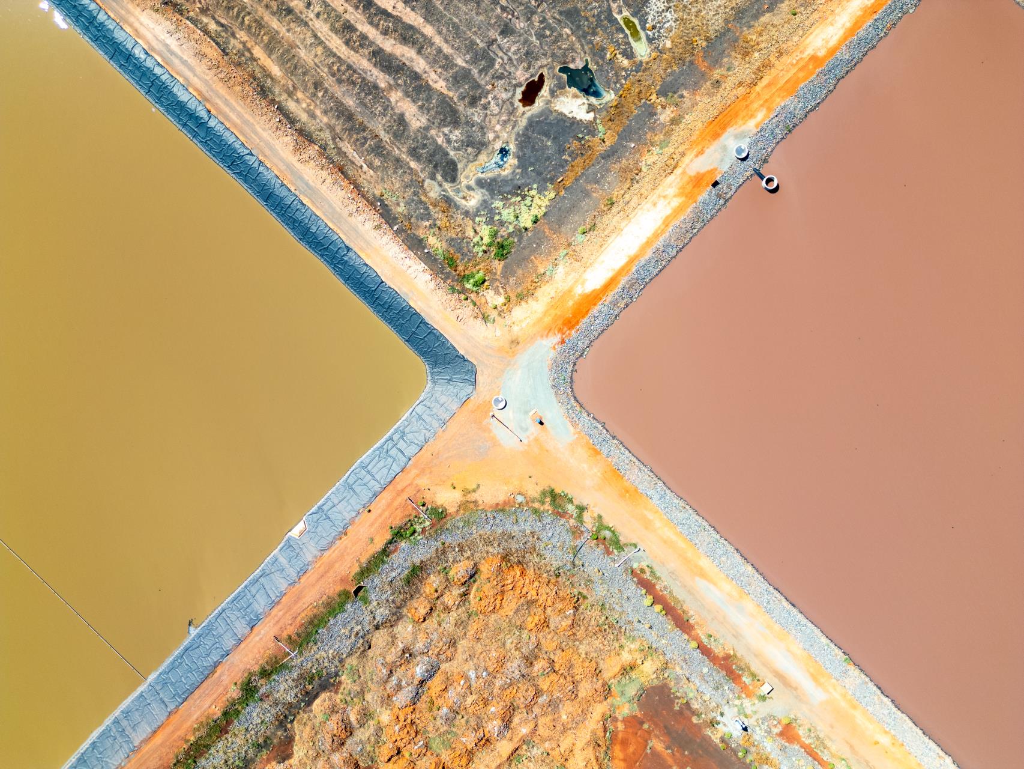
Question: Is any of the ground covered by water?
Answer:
Yes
